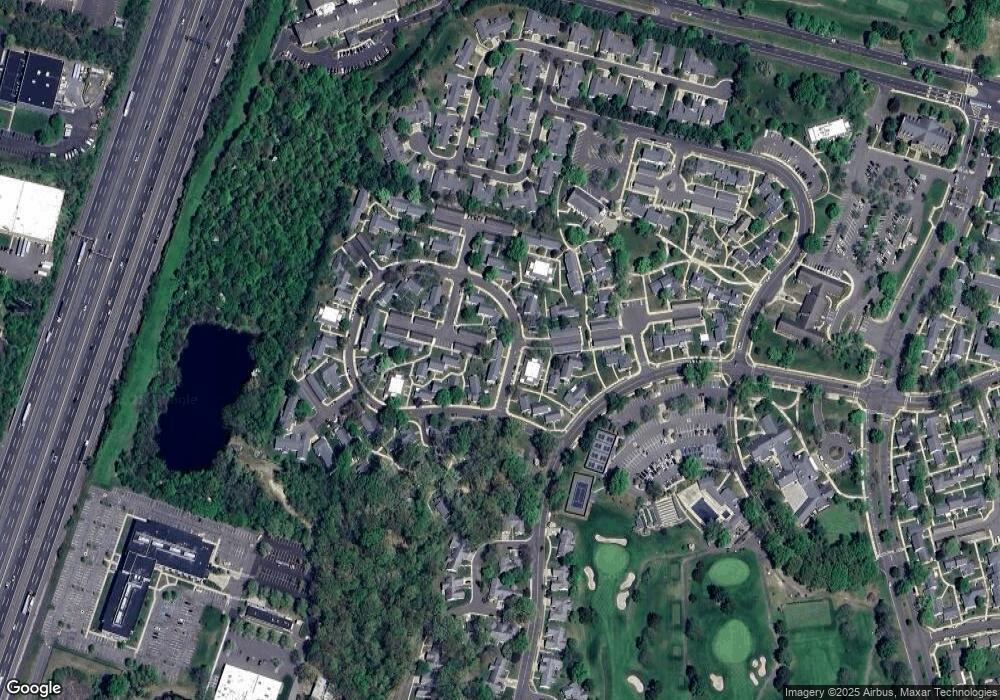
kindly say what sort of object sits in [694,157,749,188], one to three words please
house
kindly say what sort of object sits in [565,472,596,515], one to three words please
tennis court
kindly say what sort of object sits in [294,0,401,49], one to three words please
building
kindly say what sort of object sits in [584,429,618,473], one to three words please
sports court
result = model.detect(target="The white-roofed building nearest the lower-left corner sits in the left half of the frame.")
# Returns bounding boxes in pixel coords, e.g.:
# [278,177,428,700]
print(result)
[214,664,283,700]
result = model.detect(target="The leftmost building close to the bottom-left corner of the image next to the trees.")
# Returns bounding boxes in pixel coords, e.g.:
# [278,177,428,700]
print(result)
[103,519,215,639]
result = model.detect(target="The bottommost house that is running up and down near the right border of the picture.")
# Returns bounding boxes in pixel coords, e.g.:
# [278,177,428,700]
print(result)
[948,648,964,684]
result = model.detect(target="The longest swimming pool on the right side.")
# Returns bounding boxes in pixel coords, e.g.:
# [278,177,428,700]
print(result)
[678,482,721,523]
